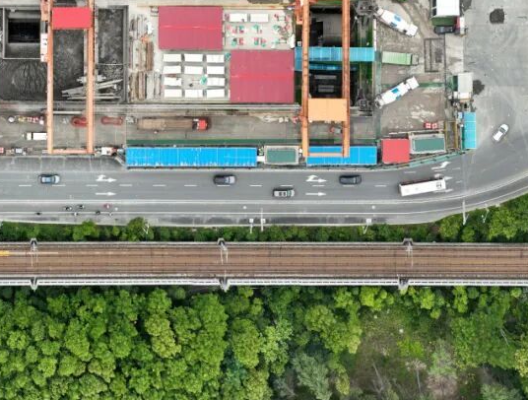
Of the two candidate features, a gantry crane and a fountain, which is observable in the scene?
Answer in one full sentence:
Looking from above, you can make out a gantry crane.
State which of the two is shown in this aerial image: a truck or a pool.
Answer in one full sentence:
There is a truck in the scene.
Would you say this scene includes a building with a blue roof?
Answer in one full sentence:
Yes, there's a building with a blue roof here.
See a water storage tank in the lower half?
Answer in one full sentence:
No, there's no water storage tank to be seen in the lower half.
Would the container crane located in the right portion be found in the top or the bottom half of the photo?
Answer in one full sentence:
The top half of the photo is where the container crane located in the right portion is.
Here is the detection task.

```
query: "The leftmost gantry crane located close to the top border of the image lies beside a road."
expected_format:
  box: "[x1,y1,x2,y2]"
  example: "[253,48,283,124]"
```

[41,0,99,155]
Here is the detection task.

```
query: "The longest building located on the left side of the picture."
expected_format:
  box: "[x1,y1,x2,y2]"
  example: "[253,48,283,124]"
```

[126,148,258,167]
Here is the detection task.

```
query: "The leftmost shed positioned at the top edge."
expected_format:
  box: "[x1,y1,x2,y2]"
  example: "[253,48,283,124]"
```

[157,7,223,50]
